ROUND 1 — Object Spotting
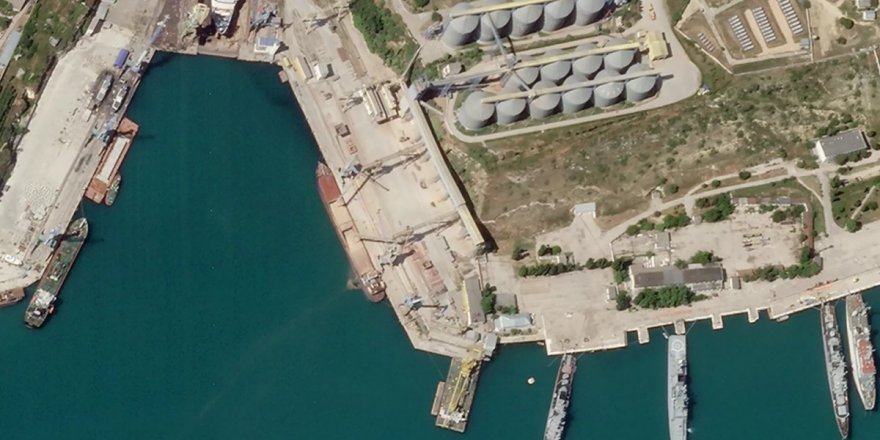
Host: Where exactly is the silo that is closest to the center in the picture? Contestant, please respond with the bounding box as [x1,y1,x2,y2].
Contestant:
[460,92,495,130]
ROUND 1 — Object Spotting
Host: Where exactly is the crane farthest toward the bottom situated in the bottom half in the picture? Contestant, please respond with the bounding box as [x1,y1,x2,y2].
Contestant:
[436,358,481,432]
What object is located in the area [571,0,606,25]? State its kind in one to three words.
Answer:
silo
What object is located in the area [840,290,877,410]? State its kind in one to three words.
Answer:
ship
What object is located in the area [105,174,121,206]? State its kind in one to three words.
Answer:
boat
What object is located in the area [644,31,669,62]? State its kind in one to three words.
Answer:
shed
